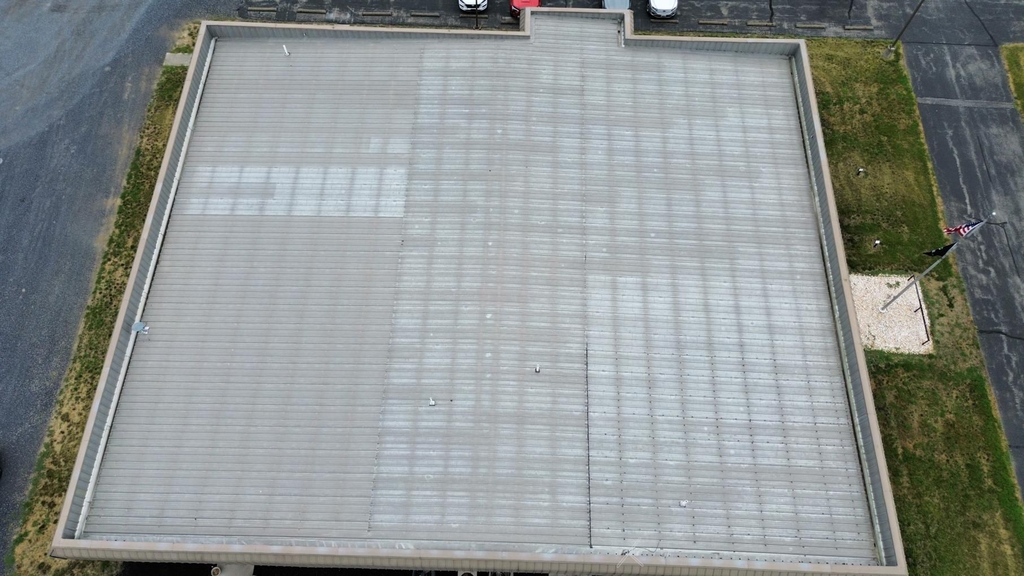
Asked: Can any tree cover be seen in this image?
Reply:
No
